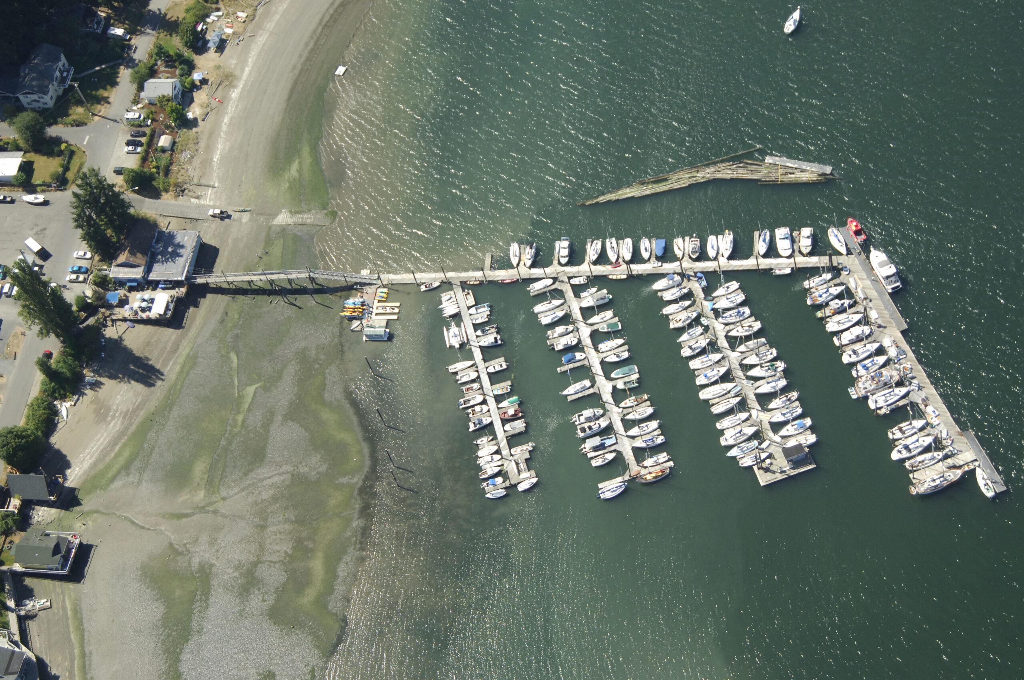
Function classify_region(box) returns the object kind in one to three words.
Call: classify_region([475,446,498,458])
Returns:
boat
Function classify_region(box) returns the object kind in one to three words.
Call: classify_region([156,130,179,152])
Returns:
shed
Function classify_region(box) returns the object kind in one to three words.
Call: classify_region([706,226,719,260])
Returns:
boat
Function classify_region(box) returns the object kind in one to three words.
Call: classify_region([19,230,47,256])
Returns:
truck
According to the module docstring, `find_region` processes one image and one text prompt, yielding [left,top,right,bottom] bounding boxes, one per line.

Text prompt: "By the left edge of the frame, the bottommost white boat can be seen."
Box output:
[19,194,48,208]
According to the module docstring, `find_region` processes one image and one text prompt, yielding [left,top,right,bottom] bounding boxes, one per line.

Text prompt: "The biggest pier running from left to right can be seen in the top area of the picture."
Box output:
[380,231,817,285]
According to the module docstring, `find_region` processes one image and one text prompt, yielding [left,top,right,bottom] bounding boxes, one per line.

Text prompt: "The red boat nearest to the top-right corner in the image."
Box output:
[848,215,868,243]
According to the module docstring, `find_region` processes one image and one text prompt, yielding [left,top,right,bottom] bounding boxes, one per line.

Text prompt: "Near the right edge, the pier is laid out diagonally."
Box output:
[810,255,976,484]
